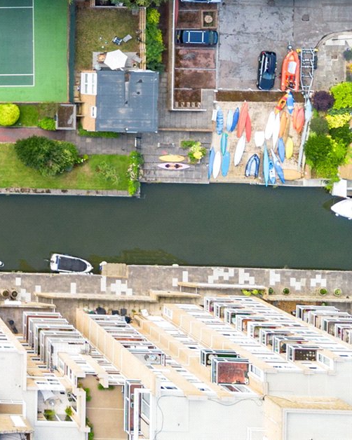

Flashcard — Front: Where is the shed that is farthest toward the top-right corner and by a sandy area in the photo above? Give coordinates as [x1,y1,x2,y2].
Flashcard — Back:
[214,91,316,103]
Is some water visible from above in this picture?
Yes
